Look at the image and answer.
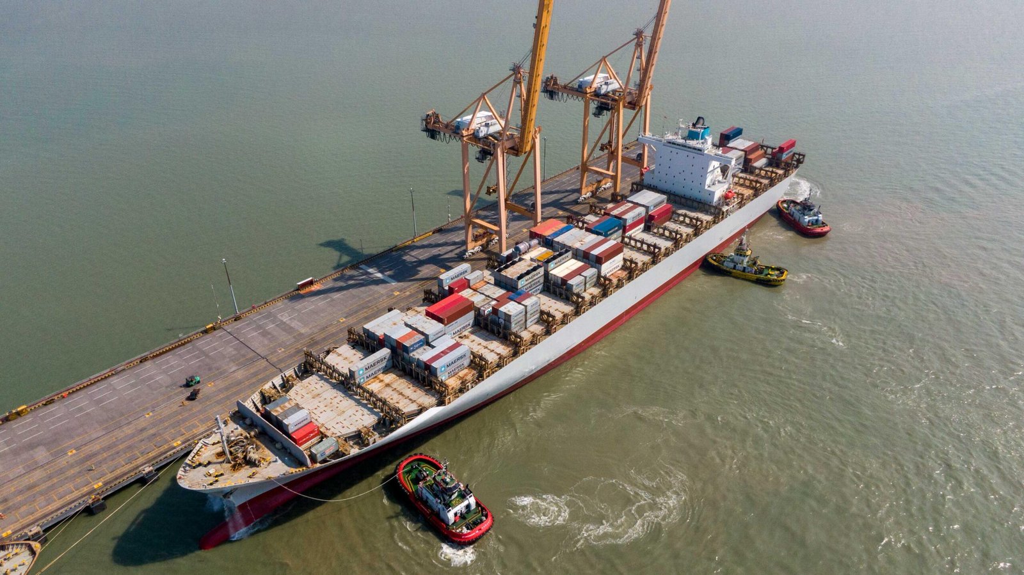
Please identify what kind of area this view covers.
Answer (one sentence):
This image shows a port.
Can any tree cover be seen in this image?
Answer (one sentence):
No, no tree cover is visible.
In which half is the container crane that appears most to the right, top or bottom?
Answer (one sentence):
It is in the top half that the container crane that appears most to the right appears.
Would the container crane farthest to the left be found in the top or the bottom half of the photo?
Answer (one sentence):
Seen from above, the container crane farthest to the left lies in the top half of the view.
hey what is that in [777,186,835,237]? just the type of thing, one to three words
boat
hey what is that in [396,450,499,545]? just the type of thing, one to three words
boat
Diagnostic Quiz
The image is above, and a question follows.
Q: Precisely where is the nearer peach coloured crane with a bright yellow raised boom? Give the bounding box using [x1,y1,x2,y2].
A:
[418,0,551,262]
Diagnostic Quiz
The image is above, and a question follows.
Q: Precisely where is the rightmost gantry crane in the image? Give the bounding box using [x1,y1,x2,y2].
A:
[540,0,669,206]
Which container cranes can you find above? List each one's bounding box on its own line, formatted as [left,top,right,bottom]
[418,0,551,262]
[540,0,669,206]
